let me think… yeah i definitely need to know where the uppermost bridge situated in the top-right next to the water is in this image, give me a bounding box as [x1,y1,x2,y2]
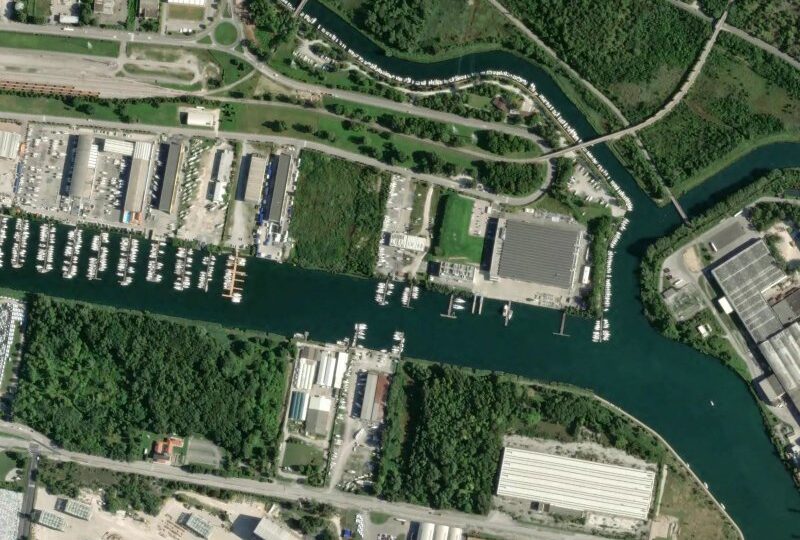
[539,0,734,162]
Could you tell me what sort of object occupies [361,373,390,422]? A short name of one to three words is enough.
building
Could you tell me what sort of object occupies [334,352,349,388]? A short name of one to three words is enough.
shed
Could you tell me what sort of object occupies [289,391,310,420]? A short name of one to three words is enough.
shed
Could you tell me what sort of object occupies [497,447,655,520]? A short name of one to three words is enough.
building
